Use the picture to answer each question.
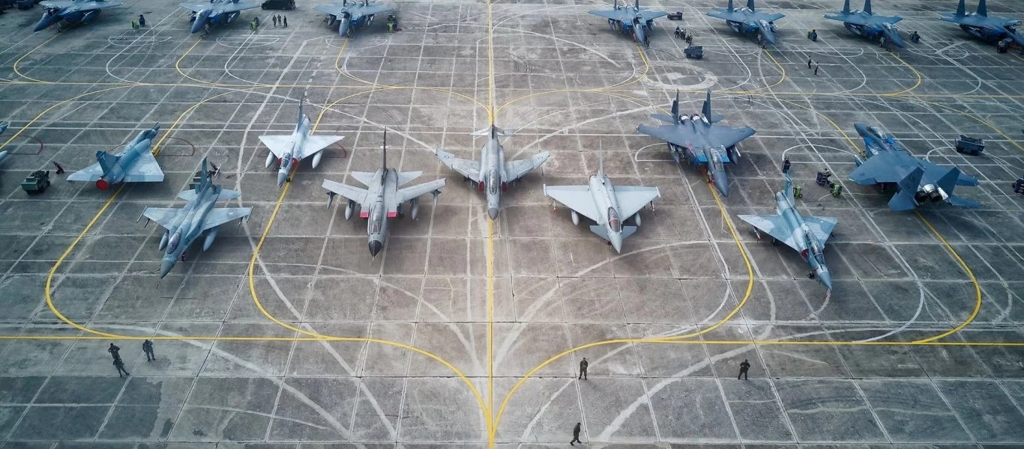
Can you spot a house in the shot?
No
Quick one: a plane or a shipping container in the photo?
plane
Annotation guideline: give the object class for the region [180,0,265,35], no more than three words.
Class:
airplane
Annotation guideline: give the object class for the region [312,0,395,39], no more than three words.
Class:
airplane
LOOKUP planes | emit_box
[544,143,659,254]
[637,87,755,198]
[321,129,445,261]
[33,0,127,33]
[180,0,265,35]
[136,157,254,283]
[706,0,784,45]
[587,0,666,45]
[435,125,548,220]
[848,125,986,215]
[259,98,345,191]
[825,0,904,48]
[312,0,395,39]
[933,0,1024,52]
[63,125,164,198]
[738,173,835,296]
